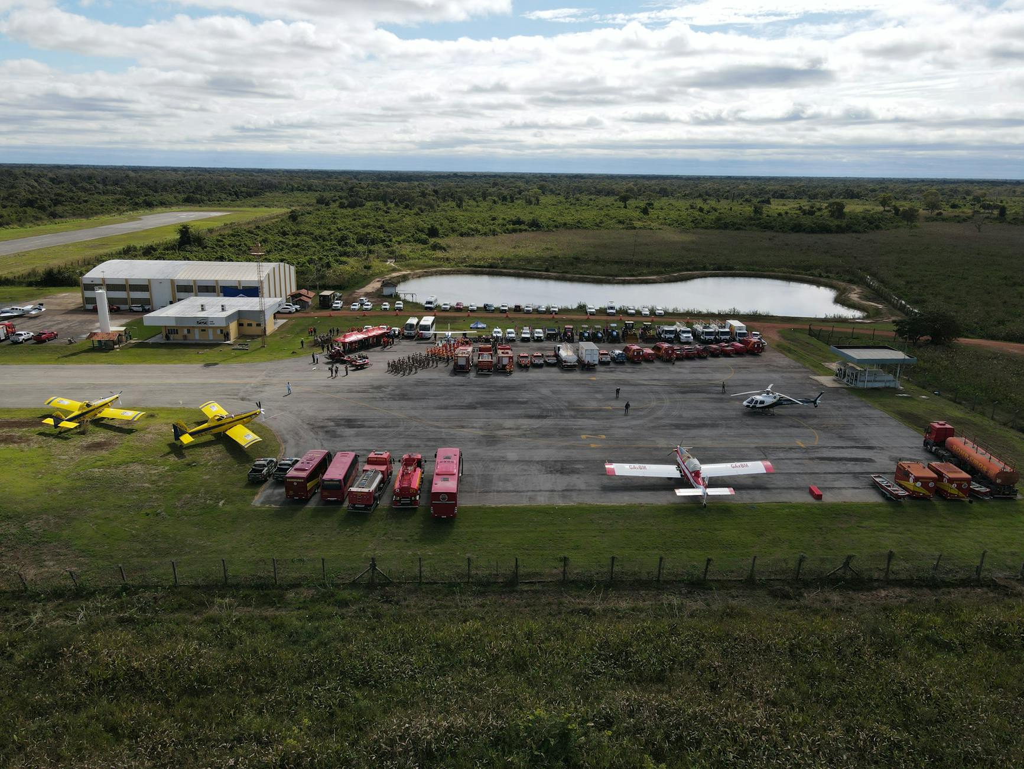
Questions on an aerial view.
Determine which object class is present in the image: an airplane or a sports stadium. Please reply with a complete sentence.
The one in the frame is an airplane.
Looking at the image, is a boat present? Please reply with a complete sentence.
Yes, a boat can be made out from above.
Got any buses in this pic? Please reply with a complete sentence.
Yes, the photo shows a bus.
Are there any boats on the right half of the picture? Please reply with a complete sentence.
Yes, on the right half of the picture there is a boat.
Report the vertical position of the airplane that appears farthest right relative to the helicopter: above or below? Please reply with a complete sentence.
Within the scene, the airplane that appears farthest right can be found below the helicopter.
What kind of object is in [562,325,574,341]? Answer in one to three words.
vehicle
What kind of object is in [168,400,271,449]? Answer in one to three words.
airplane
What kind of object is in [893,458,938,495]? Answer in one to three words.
trailer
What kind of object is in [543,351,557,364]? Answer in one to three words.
vehicle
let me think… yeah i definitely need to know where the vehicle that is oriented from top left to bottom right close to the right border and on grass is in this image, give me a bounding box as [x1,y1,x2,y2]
[920,422,1017,492]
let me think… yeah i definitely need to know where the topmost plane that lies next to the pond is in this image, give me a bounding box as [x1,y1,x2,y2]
[422,325,480,344]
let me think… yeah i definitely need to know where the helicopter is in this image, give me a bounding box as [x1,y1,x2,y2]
[727,386,830,417]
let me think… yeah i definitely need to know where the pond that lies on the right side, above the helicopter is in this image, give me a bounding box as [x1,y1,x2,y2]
[398,275,864,318]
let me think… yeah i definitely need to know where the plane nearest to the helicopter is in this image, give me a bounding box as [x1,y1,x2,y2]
[602,439,772,506]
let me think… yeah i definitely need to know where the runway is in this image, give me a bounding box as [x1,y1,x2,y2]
[0,212,227,256]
